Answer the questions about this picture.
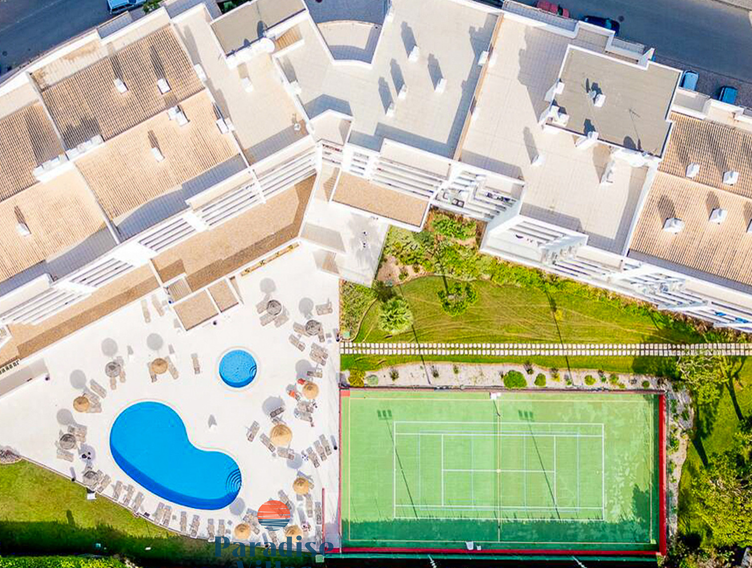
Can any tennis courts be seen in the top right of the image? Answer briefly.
No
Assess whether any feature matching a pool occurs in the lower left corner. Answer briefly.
Yes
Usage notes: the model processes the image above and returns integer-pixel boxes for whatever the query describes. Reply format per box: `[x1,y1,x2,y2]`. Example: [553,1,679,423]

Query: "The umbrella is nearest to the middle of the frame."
[305,320,321,337]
